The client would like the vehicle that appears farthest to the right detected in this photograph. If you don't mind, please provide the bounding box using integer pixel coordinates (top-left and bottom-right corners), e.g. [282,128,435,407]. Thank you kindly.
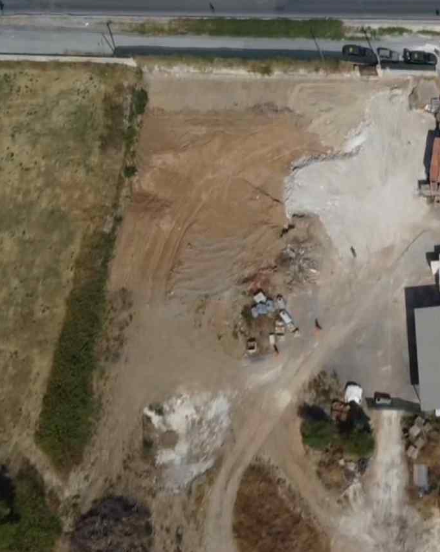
[405,49,438,65]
